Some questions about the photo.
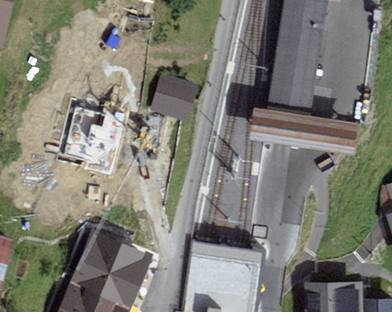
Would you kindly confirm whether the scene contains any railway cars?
No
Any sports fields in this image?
No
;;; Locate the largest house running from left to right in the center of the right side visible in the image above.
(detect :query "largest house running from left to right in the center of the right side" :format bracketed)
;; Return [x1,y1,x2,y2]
[250,108,359,155]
